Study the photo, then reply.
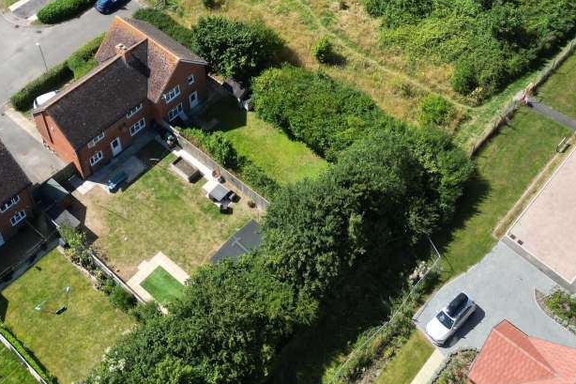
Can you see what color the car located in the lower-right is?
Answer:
white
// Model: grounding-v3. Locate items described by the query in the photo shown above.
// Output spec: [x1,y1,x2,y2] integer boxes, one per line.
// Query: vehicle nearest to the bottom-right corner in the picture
[423,288,480,347]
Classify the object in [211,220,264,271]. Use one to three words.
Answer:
shed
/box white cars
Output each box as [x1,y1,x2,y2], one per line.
[26,88,65,123]
[423,288,480,347]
